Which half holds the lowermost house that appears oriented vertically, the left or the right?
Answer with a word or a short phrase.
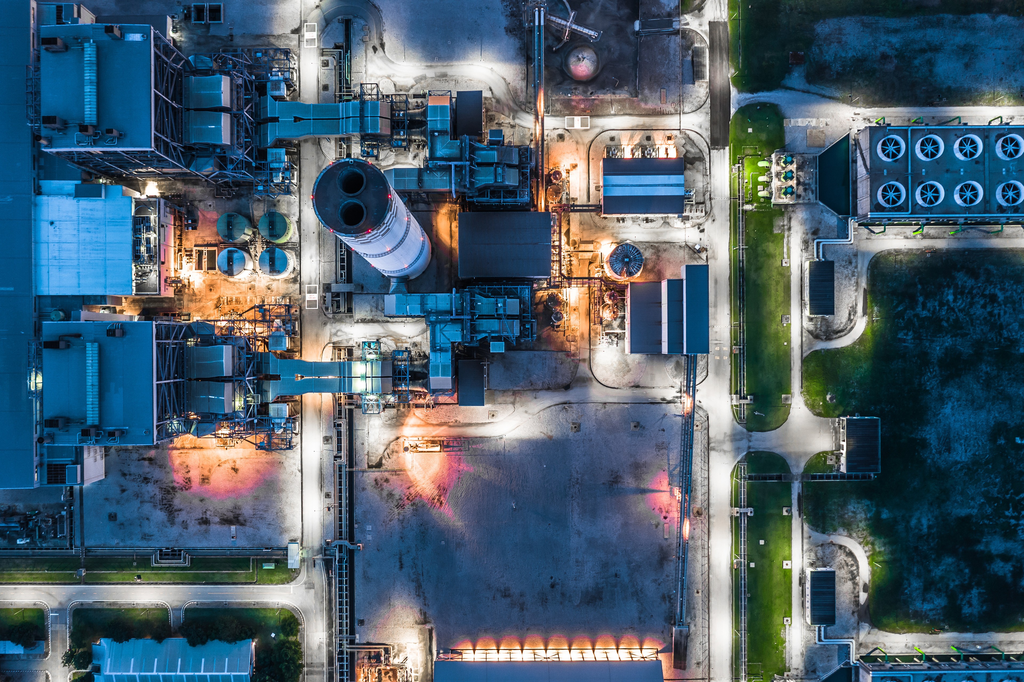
right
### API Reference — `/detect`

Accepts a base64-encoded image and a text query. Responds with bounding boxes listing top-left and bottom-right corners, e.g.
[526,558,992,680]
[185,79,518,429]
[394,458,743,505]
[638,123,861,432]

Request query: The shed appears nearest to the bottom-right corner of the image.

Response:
[805,567,836,625]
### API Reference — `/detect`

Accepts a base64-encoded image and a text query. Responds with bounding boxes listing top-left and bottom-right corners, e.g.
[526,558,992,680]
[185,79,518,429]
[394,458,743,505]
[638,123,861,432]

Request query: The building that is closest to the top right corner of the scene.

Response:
[769,152,819,204]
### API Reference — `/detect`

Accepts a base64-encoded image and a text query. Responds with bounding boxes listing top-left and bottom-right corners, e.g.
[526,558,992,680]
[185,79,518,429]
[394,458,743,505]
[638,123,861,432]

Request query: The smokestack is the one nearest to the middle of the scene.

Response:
[310,158,431,274]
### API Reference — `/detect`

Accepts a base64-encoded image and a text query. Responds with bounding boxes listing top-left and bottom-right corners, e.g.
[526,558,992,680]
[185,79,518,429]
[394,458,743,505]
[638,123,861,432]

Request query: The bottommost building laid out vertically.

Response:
[668,621,690,670]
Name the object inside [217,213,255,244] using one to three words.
storage tank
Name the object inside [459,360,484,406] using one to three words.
building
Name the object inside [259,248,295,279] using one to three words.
storage tank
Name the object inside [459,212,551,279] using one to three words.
shed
